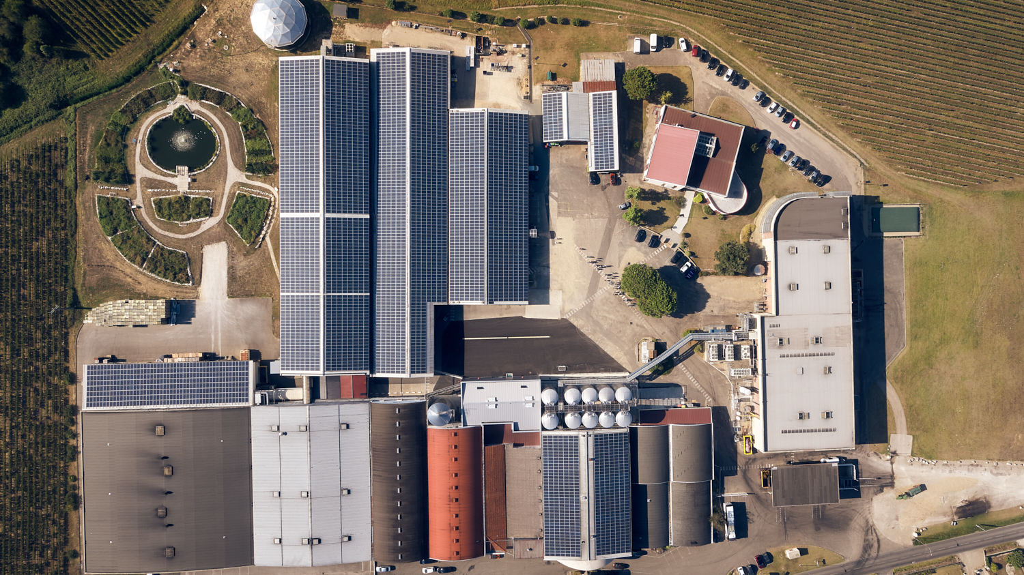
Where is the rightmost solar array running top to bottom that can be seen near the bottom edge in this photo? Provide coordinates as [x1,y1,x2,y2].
[595,433,630,555]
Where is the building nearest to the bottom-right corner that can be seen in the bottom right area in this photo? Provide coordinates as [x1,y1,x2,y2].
[838,461,858,491]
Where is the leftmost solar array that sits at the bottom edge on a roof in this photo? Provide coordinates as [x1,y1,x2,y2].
[543,435,580,556]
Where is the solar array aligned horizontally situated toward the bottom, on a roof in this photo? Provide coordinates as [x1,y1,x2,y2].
[86,362,249,406]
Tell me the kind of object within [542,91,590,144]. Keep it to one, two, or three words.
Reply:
building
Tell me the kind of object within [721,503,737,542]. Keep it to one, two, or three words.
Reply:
vehicle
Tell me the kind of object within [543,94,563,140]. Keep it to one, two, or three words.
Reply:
solar array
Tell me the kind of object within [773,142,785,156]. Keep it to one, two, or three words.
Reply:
vehicle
